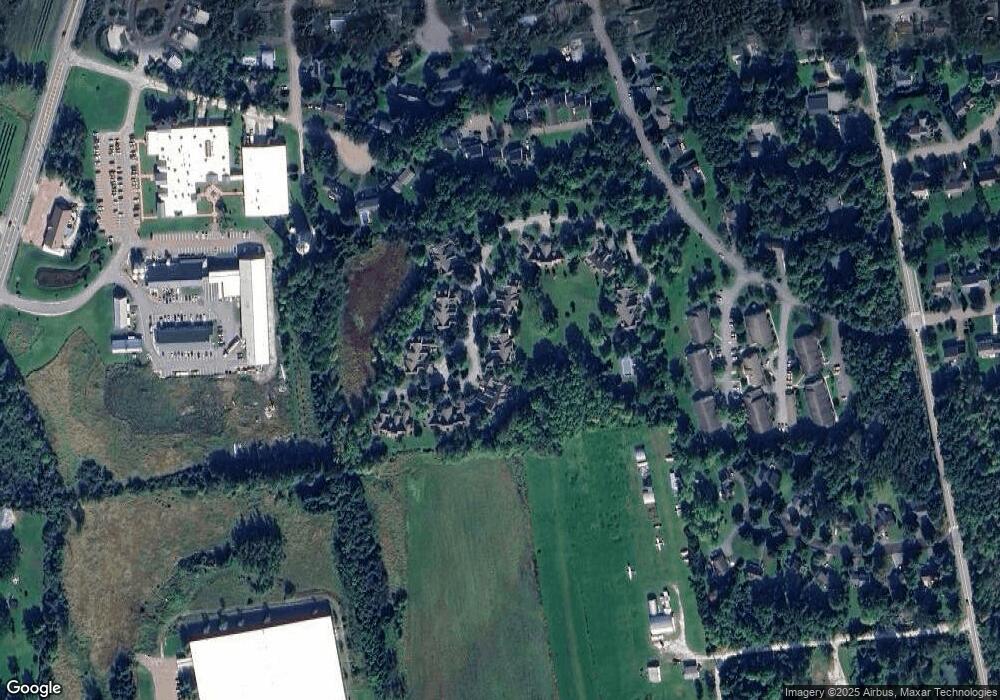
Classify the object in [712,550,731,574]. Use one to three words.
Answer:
house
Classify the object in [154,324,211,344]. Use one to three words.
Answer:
barn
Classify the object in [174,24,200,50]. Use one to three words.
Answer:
house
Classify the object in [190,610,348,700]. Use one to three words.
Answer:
building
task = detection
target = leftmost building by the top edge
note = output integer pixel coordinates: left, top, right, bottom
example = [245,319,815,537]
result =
[109,25,125,48]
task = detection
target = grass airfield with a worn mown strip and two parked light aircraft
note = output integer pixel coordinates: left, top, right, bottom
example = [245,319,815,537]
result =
[526,426,706,700]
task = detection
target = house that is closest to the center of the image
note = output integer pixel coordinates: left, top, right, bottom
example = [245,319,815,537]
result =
[489,324,518,364]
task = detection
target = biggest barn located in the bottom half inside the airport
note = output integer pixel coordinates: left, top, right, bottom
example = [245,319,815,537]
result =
[649,614,675,634]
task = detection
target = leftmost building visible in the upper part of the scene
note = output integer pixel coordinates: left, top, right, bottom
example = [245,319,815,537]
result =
[44,207,71,250]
